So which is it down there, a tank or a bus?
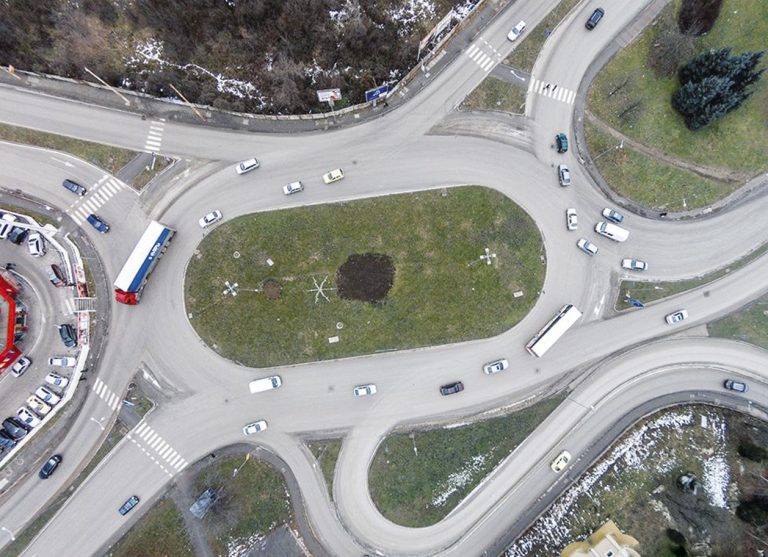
bus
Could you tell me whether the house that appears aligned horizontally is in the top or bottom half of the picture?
bottom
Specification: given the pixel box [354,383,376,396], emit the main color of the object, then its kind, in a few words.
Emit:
white vehicle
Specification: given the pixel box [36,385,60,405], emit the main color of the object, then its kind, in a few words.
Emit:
white car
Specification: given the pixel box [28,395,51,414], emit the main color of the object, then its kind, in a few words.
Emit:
white car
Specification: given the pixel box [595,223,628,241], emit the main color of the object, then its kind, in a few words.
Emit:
white vehicle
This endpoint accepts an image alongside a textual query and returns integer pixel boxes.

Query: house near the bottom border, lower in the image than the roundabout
[560,520,652,557]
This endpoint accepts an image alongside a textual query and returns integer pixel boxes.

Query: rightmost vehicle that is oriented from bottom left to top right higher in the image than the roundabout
[583,8,604,32]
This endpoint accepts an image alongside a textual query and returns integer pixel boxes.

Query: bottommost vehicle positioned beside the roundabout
[243,419,268,435]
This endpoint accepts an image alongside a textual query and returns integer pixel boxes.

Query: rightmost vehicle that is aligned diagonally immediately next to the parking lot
[113,220,173,302]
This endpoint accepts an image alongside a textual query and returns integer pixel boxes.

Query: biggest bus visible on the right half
[524,302,583,357]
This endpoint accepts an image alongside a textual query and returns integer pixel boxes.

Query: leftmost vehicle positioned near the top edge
[506,20,526,43]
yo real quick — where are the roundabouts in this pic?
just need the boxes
[130,132,599,421]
